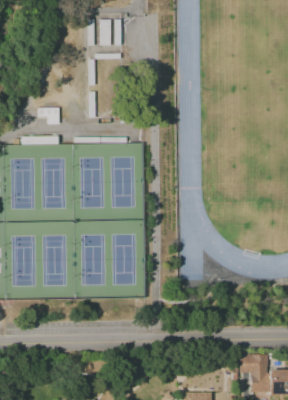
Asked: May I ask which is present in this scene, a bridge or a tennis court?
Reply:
tennis court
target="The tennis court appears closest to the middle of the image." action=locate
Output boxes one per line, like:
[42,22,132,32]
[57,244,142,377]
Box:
[111,156,135,208]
